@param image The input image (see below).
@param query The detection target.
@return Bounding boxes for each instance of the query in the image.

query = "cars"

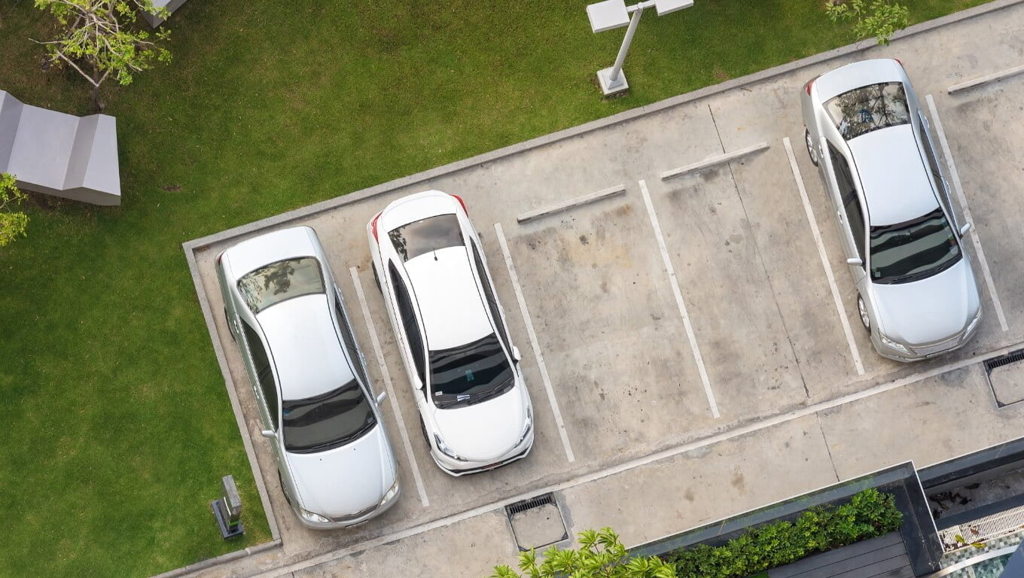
[219,224,398,532]
[370,191,534,477]
[802,55,982,365]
